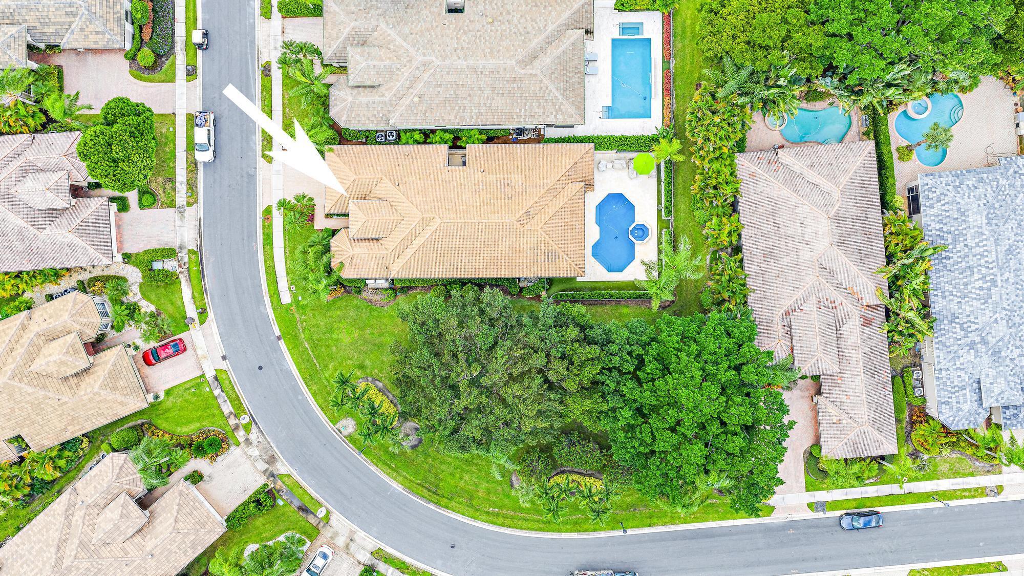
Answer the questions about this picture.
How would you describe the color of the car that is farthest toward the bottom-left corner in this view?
red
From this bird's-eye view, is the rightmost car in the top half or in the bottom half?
bottom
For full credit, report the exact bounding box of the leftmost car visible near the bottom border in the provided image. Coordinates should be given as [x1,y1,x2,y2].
[299,547,330,576]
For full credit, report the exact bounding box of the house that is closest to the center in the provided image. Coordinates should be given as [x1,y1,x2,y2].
[324,143,595,279]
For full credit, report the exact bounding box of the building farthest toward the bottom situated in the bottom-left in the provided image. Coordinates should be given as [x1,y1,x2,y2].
[0,451,228,576]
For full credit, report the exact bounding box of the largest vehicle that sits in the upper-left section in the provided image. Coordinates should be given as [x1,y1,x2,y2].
[189,109,215,161]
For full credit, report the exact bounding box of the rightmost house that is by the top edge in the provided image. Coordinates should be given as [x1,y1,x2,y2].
[322,0,594,130]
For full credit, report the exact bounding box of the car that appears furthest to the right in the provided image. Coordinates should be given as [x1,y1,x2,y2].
[842,511,889,535]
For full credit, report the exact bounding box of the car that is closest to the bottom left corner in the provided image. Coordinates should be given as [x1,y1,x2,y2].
[139,338,185,365]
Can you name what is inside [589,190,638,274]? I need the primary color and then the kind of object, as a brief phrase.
blue swimming pool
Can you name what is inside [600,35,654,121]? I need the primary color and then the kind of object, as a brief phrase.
blue swimming pool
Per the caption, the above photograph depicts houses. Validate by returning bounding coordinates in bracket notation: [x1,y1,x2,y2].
[0,130,118,272]
[324,143,595,279]
[0,289,153,468]
[734,140,899,460]
[322,0,594,130]
[0,451,228,576]
[906,154,1024,431]
[0,0,132,72]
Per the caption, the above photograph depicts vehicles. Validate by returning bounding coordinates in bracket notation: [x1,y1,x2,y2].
[842,511,889,535]
[299,547,330,576]
[189,109,215,161]
[139,338,185,365]
[191,28,210,51]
